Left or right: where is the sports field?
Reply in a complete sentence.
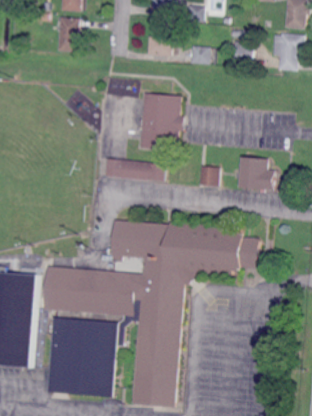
It is on the left.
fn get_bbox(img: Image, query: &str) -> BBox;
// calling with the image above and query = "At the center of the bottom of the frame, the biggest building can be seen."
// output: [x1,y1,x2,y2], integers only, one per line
[46,220,262,408]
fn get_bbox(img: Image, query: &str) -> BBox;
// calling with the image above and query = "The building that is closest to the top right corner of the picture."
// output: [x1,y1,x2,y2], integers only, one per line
[286,0,312,30]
